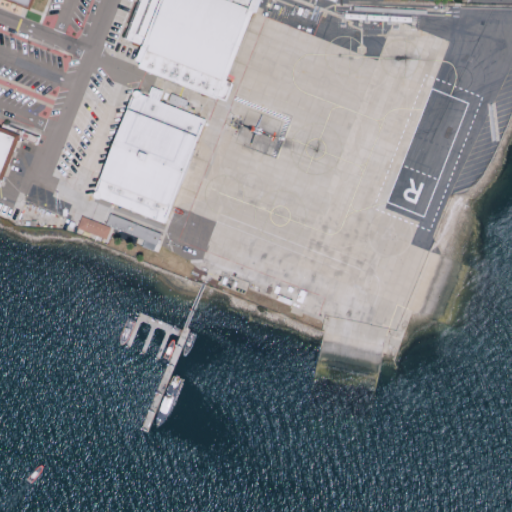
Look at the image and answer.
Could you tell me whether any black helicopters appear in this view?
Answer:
No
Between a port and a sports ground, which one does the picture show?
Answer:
port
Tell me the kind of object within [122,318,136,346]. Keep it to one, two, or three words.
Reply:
boat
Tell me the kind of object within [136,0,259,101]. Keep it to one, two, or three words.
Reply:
hangar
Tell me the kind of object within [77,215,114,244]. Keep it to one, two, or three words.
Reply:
building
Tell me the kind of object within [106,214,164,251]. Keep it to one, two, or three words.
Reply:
building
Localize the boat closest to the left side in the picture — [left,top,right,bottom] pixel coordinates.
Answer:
[27,465,44,482]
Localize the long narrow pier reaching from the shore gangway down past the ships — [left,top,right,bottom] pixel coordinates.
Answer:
[142,284,204,432]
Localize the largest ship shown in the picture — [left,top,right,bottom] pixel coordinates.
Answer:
[158,376,184,428]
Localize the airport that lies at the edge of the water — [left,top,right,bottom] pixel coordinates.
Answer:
[160,0,512,358]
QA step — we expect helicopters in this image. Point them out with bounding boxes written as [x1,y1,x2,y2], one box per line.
[242,114,276,143]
